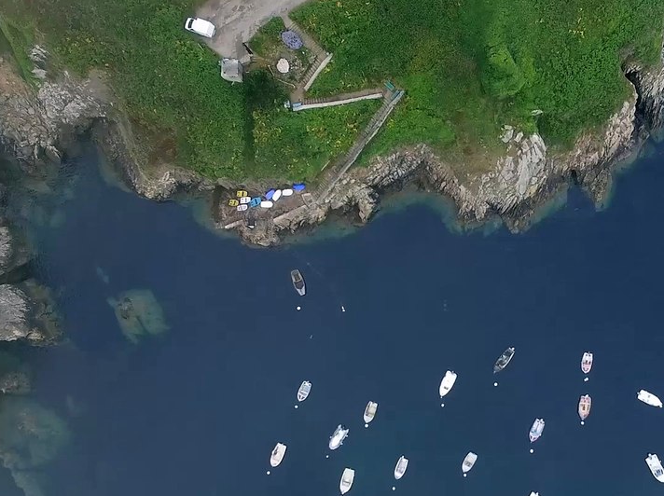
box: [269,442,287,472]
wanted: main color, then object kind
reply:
white boat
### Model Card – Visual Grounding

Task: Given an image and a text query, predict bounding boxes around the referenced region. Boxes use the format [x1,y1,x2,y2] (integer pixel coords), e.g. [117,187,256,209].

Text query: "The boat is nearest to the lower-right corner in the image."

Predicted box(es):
[647,454,664,483]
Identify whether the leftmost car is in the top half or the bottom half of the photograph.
top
